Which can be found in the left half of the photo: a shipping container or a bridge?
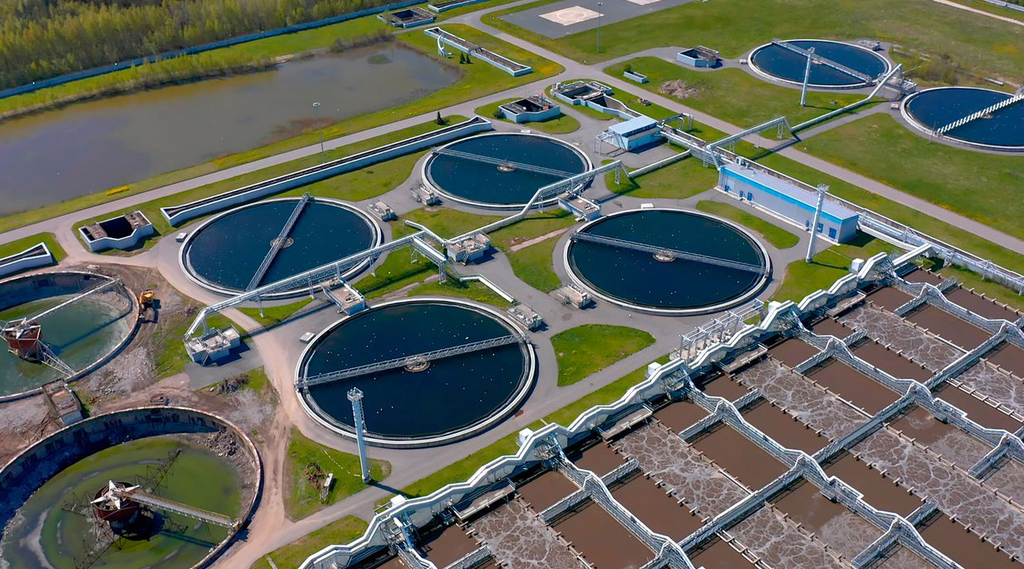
bridge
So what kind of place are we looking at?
industrial area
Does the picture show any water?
Yes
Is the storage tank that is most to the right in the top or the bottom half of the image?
top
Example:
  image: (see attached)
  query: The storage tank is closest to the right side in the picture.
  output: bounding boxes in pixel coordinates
[900,86,1024,152]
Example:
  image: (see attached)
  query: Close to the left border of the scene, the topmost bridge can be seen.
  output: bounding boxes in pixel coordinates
[15,275,126,326]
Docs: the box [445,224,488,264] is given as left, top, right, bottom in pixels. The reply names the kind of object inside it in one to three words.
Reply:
building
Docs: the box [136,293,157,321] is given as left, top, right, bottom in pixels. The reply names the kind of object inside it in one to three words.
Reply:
work vehicle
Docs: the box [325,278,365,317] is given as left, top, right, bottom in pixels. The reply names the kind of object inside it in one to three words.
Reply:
building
